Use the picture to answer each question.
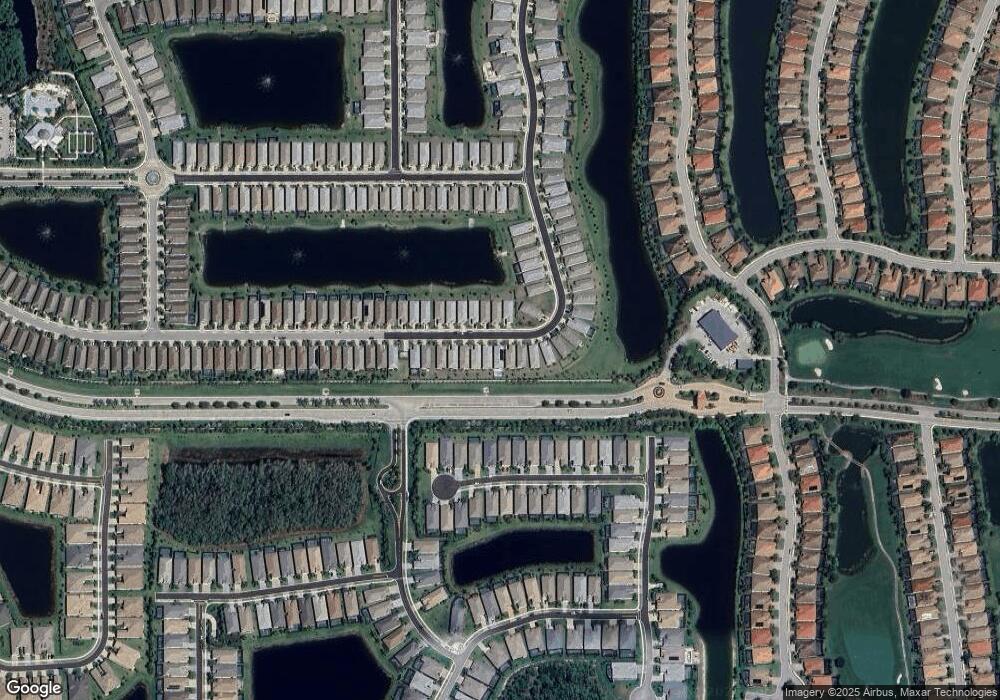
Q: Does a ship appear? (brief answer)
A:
No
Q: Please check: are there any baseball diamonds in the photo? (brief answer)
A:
No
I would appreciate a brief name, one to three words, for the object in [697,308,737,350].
building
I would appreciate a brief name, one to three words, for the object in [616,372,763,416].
roundabout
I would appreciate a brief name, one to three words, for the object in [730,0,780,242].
pond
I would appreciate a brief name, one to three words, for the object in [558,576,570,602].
house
